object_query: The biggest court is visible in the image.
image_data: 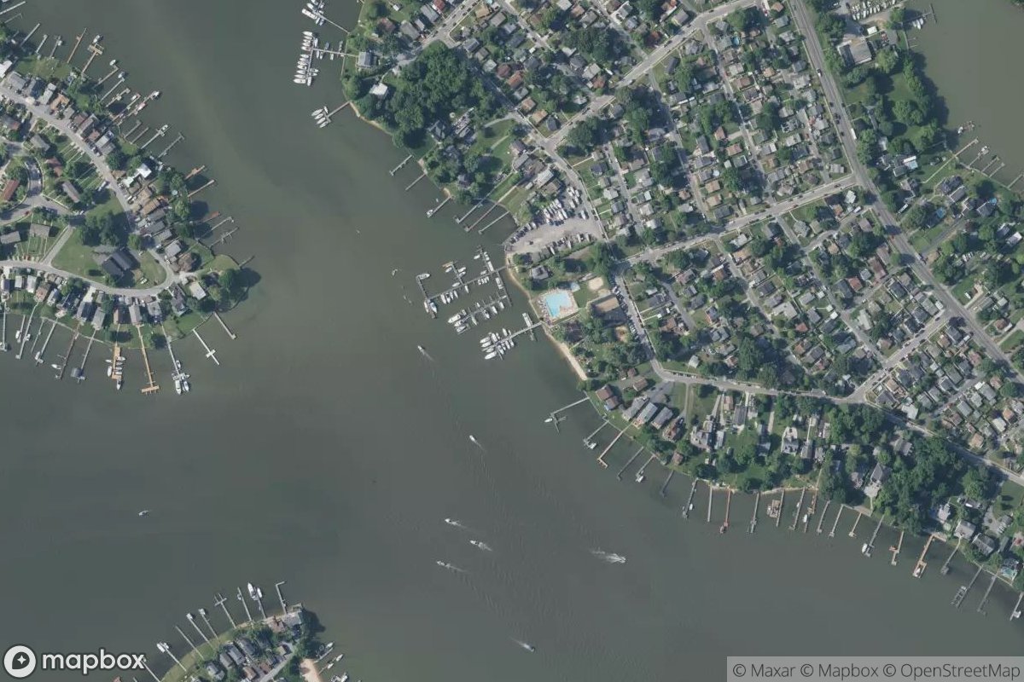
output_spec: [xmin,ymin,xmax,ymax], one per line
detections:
[591,294,627,327]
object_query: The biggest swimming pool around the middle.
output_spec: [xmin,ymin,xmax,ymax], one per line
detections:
[537,288,579,321]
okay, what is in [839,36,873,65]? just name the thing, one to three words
building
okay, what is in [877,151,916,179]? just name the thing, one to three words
house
